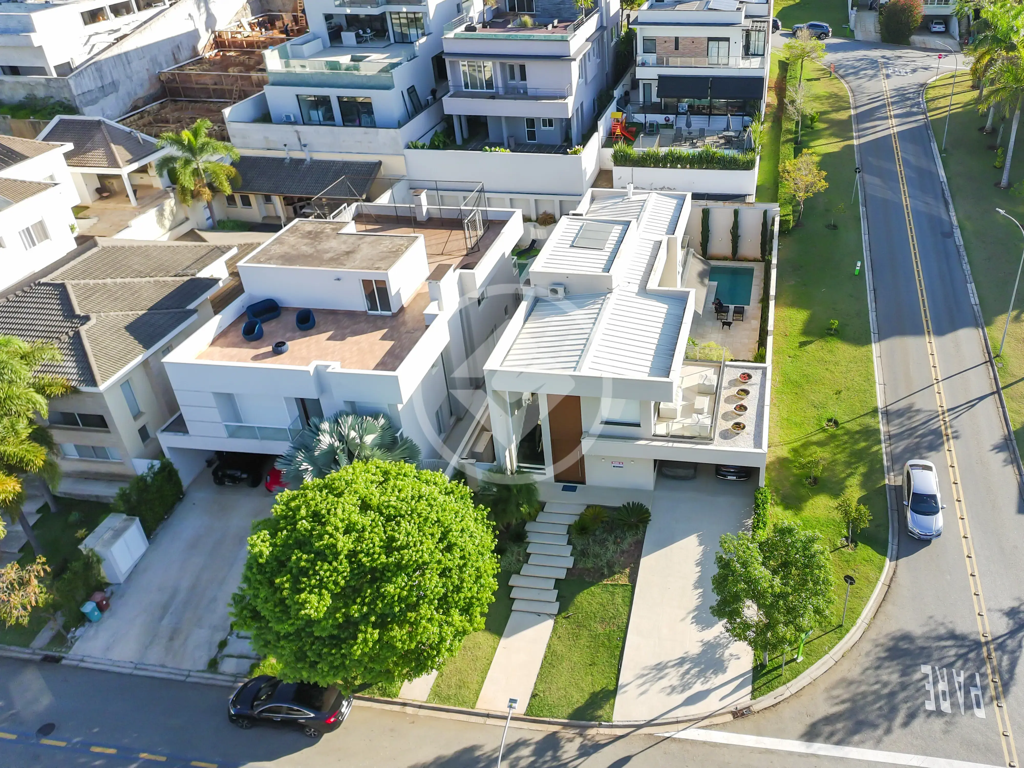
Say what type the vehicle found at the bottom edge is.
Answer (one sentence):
I'd say the vehicle found at the bottom edge is an automobile.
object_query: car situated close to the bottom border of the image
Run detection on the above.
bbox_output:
[224,675,345,742]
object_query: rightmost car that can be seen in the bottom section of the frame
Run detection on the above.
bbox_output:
[899,468,954,539]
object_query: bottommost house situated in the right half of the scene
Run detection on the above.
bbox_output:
[476,182,771,509]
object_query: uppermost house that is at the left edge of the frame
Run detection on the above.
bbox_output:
[0,0,184,80]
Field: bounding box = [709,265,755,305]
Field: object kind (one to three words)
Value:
swimming pool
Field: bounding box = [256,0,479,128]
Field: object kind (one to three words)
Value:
building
